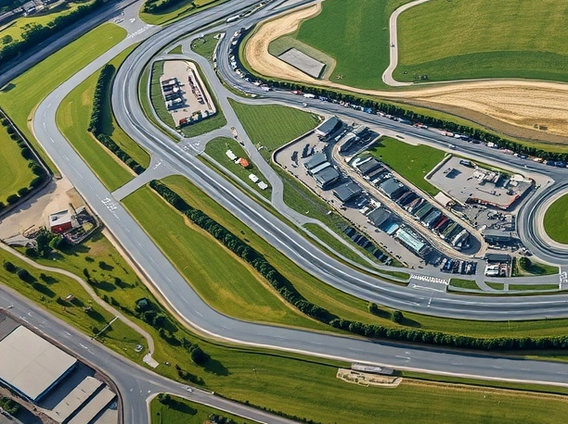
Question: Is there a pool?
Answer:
No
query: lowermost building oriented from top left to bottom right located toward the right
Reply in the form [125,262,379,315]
[394,227,423,256]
